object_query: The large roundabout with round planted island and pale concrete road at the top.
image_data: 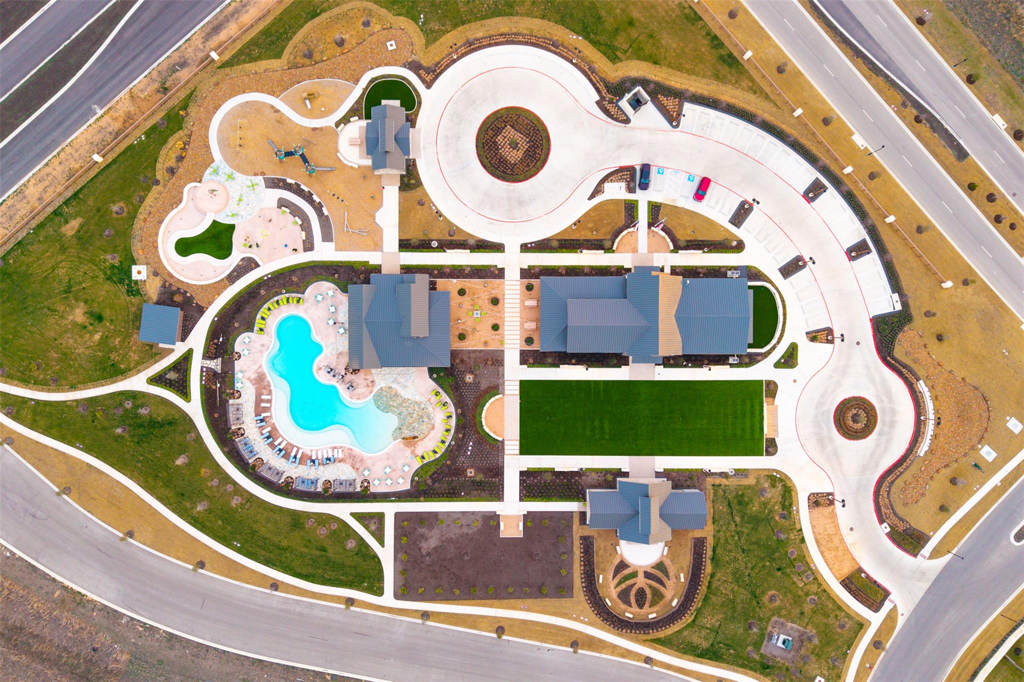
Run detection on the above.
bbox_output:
[437,68,589,220]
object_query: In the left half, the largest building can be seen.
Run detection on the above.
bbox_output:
[345,273,450,369]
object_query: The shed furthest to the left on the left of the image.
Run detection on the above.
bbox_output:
[140,304,185,345]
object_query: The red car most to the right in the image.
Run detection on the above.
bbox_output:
[694,176,712,203]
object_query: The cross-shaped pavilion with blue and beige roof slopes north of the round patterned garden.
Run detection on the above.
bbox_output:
[589,480,710,550]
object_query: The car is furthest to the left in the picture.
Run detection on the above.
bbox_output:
[638,163,651,191]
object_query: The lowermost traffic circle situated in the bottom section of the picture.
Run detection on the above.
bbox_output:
[797,360,914,477]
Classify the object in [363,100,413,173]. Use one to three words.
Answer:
building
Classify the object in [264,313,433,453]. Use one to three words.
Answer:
swimming pool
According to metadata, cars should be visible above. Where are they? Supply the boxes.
[638,163,651,191]
[694,176,712,203]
